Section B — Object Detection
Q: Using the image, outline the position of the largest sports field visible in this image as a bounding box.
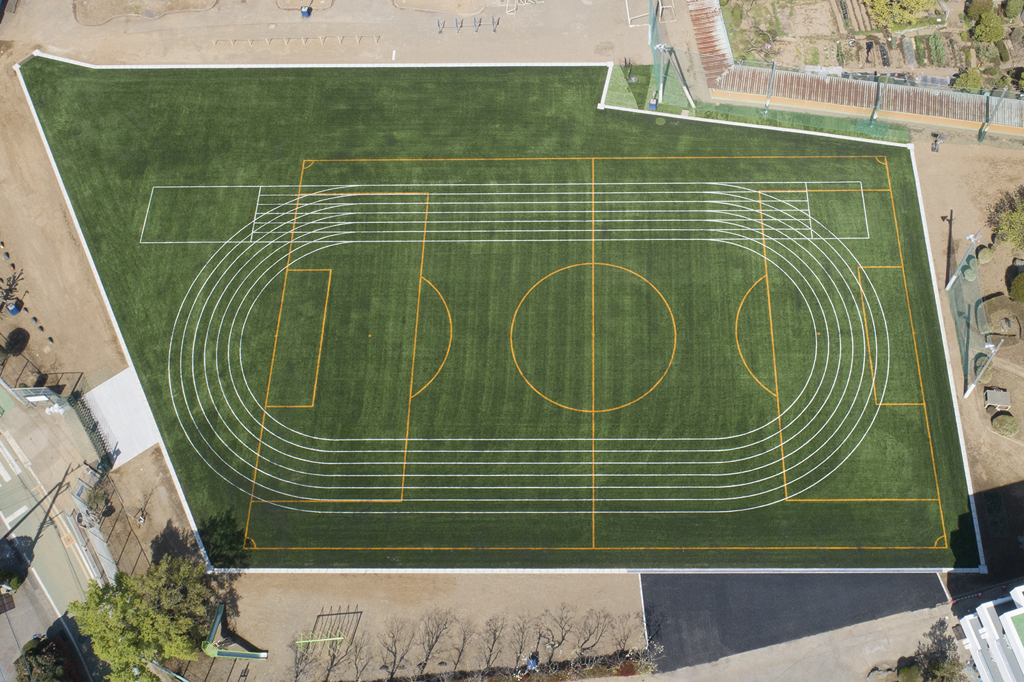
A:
[19,54,980,567]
